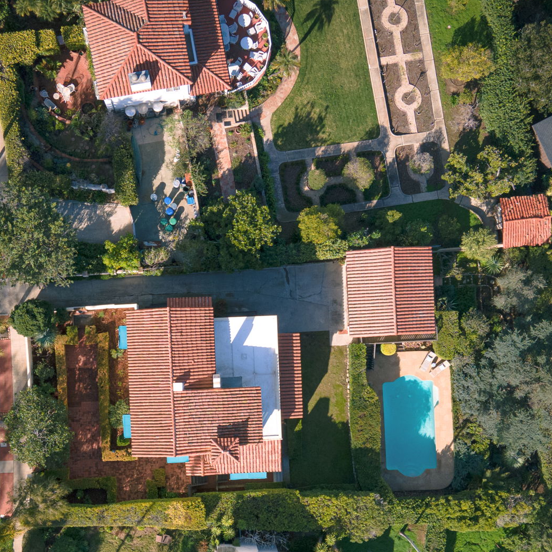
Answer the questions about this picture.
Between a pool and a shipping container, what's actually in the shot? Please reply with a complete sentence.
This aerial view contains a pool.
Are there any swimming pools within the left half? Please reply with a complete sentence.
No, there is no swimming pool within the left half.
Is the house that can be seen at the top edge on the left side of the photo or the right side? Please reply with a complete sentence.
The house that can be seen at the top edge is on the left side of the image.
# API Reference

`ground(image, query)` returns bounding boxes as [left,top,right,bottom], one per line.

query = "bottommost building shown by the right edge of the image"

[498,192,552,249]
